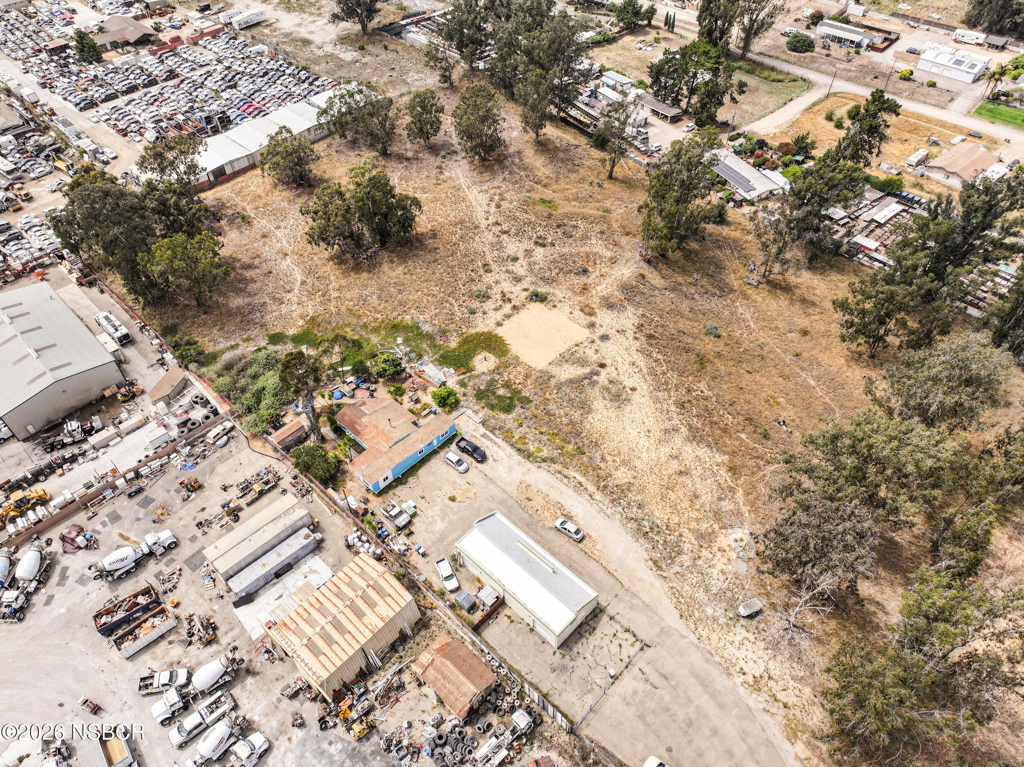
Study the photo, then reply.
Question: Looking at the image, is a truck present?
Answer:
Yes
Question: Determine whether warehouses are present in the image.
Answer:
Yes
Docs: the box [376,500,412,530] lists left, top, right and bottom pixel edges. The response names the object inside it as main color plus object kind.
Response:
white truck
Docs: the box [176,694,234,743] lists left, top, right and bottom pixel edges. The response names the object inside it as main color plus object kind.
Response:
white truck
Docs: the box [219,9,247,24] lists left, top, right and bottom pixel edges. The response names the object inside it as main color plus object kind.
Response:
white vehicle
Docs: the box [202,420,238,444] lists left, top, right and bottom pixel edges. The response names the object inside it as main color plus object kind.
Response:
white car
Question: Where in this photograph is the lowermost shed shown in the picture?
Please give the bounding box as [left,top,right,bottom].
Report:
[408,628,501,726]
